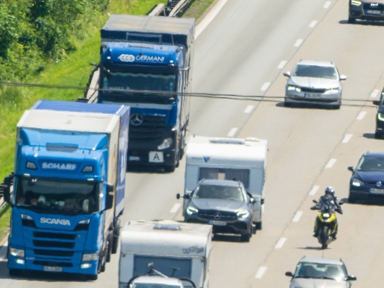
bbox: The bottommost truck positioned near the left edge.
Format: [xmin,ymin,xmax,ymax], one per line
[6,104,133,274]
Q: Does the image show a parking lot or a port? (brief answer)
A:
parking lot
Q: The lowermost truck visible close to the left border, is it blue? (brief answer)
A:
Yes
